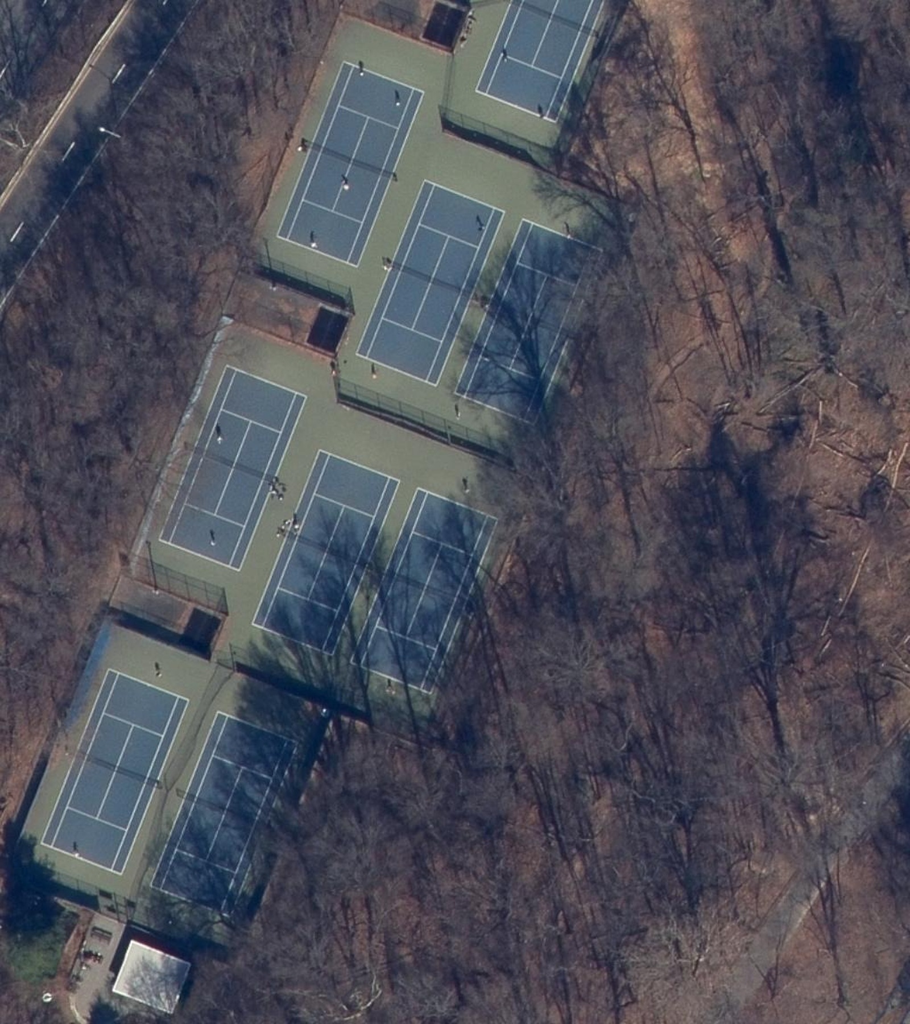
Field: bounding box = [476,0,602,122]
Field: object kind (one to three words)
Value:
tennis court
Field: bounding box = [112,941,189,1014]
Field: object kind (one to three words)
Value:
building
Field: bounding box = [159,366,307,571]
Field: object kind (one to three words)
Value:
tennis court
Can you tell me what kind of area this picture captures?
sports ground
